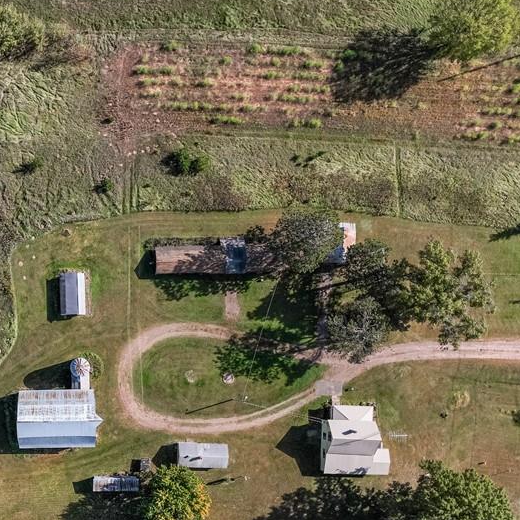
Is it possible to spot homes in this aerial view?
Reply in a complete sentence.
Yes, there's a home down there.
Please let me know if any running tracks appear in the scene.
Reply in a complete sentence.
No, there's no running track here.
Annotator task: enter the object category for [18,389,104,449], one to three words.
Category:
barn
